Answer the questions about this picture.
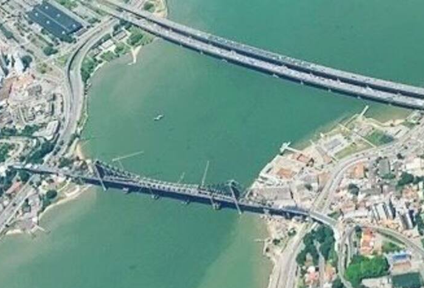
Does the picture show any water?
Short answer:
Yes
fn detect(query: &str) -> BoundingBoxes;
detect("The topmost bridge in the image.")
[80,0,424,113]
